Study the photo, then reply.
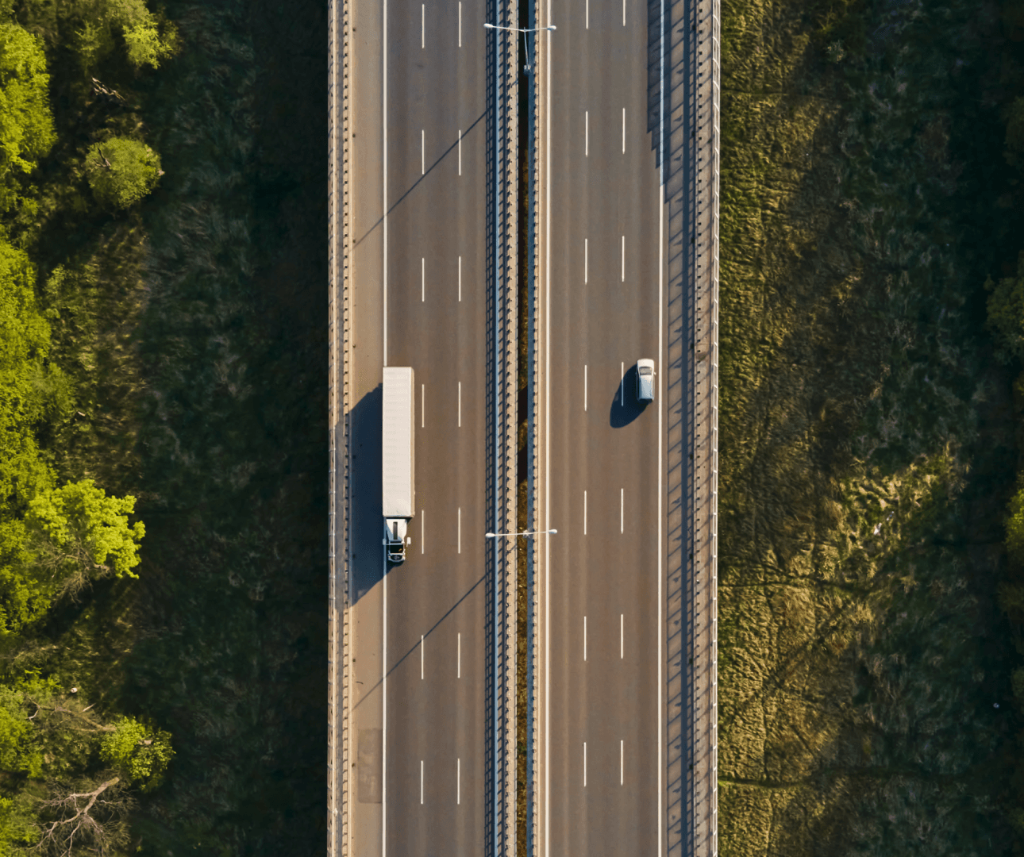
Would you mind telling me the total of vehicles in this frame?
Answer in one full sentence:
The number of vehicles here is 2.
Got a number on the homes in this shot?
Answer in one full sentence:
The picture shows no homes.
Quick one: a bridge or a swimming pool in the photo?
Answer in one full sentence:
It is a bridge that can be seen here.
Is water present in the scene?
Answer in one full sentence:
No, there is no water in the image.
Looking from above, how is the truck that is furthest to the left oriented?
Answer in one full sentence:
The truck that is furthest to the left runs up and down in the image.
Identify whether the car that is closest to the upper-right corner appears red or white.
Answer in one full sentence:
The car that is closest to the upper-right corner is white.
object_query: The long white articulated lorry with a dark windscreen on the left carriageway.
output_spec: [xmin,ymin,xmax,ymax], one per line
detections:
[383,366,415,563]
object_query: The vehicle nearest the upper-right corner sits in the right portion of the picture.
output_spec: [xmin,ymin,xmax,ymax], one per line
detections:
[635,359,657,402]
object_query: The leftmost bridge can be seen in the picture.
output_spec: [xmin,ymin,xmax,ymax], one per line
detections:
[327,0,520,857]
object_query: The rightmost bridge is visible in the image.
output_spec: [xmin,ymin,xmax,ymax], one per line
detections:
[526,0,721,857]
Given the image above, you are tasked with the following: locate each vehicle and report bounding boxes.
[635,359,657,402]
[383,366,415,563]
